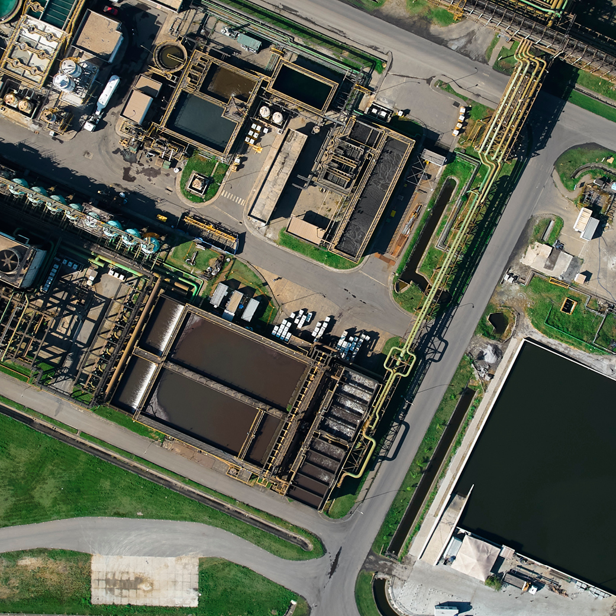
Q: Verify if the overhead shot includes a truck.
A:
Yes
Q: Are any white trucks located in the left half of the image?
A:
Yes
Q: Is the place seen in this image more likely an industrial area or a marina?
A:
industrial area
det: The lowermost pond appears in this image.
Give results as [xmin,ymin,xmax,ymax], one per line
[419,339,616,593]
